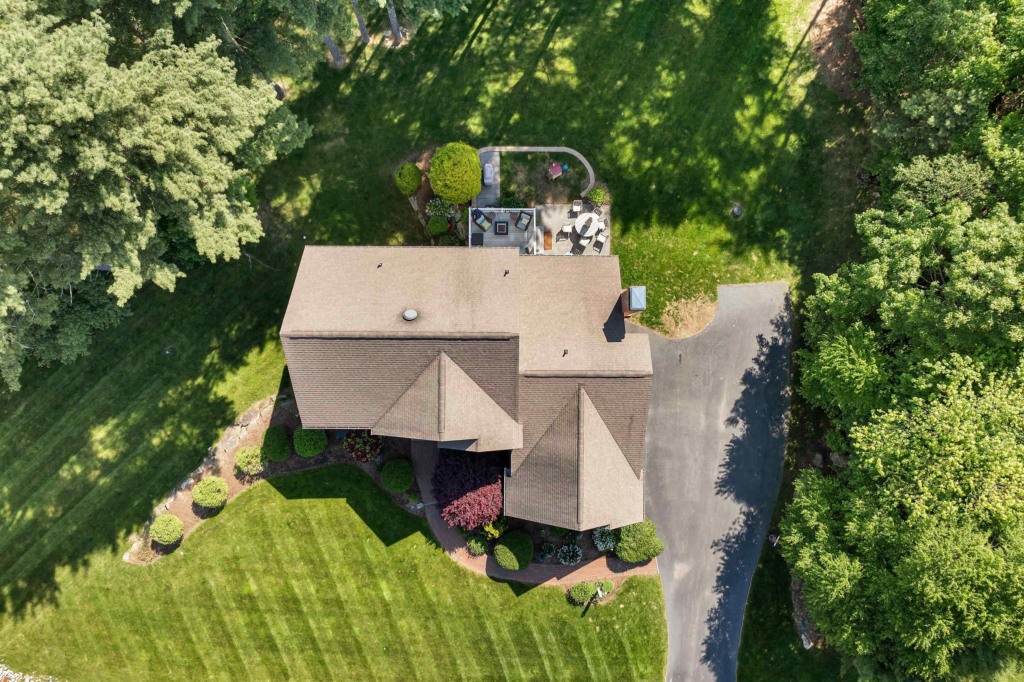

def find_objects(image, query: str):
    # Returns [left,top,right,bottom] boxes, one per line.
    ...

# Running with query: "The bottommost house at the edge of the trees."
[280,243,653,531]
